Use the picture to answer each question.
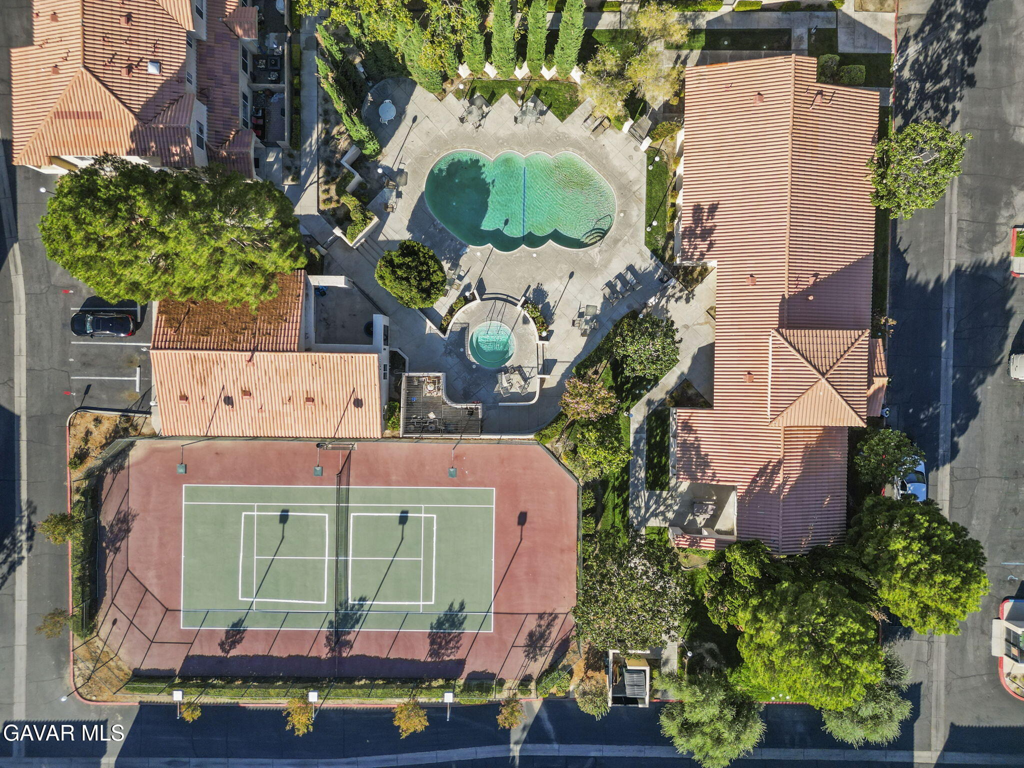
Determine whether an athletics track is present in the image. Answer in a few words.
No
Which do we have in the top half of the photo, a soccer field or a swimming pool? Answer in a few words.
swimming pool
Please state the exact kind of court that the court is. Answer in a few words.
tennis court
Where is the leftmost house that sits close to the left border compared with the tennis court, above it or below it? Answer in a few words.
above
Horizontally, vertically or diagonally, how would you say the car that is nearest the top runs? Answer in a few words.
horizontally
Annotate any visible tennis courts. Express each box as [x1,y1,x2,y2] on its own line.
[102,442,576,679]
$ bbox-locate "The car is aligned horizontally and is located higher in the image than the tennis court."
[73,309,139,340]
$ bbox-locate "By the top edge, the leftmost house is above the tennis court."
[9,0,267,186]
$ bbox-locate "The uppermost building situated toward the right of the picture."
[669,55,887,555]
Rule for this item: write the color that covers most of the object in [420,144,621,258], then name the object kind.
green swimming pool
